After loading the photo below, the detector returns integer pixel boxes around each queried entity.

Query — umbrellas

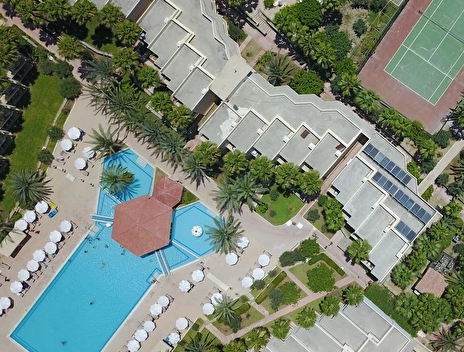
[73,157,87,169]
[128,339,140,352]
[179,279,191,292]
[33,249,48,263]
[176,317,189,329]
[237,236,250,249]
[18,269,32,282]
[36,200,50,213]
[61,138,74,151]
[45,241,58,254]
[60,219,73,231]
[157,295,170,308]
[134,329,147,341]
[202,303,214,315]
[169,332,182,344]
[83,145,95,158]
[241,276,255,289]
[225,253,238,265]
[49,229,63,243]
[253,268,265,279]
[257,254,270,267]
[10,281,25,294]
[0,296,13,309]
[23,210,38,223]
[192,270,204,283]
[144,320,156,333]
[15,217,29,230]
[150,304,163,315]
[68,128,81,140]
[27,259,41,272]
